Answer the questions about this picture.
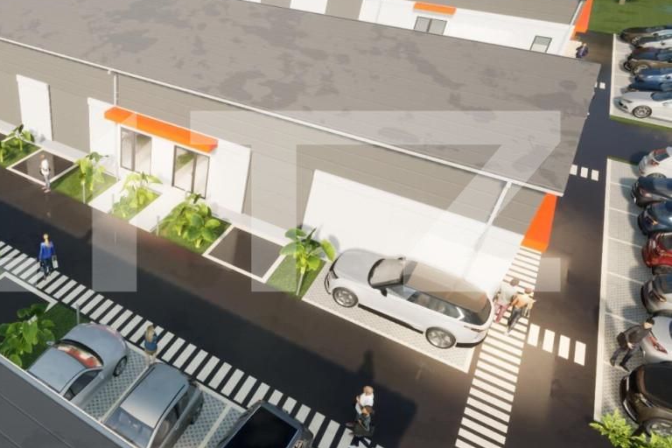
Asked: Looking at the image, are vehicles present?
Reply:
Yes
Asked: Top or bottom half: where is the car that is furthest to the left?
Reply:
bottom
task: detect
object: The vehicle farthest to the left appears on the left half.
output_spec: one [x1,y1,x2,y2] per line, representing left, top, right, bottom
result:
[28,320,126,404]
